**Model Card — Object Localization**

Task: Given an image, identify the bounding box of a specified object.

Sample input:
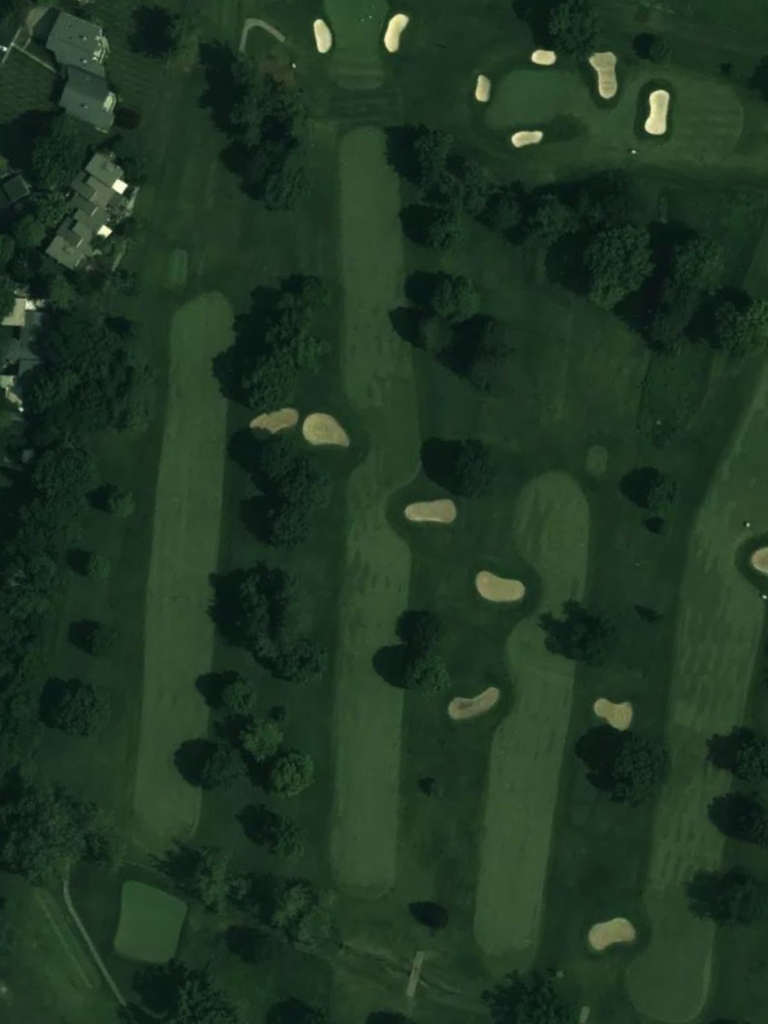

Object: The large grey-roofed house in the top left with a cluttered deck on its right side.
[46,12,109,77]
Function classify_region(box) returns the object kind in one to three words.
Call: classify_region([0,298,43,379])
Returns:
house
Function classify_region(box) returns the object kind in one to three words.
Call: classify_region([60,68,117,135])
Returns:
house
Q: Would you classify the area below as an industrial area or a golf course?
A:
golf course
